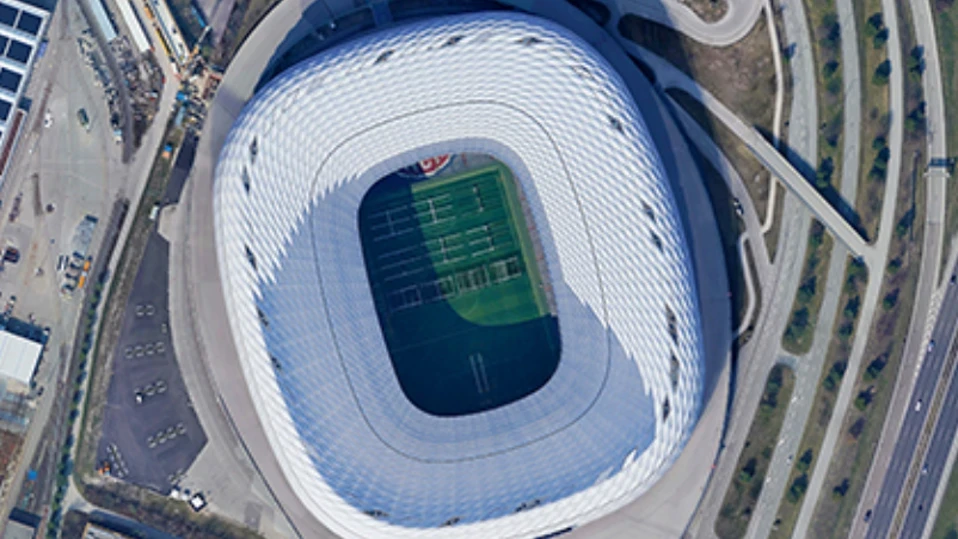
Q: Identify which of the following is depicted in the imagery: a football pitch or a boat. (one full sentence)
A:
The image shows a football pitch.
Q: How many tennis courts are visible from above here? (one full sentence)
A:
There are no tennis courts in this view.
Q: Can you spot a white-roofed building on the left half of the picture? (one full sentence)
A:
Yes, you'll find a white-roofed building on the left half of the picture.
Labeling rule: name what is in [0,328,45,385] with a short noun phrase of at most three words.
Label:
building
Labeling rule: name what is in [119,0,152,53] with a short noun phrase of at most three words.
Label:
shed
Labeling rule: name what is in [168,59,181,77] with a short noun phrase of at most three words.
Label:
vehicle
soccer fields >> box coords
[359,164,558,416]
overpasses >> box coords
[675,66,875,258]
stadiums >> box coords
[212,9,705,539]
